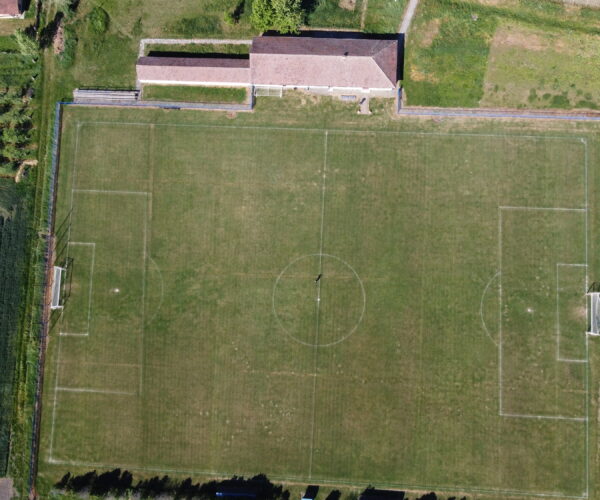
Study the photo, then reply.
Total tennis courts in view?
0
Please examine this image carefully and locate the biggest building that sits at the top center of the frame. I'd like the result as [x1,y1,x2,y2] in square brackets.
[248,36,397,98]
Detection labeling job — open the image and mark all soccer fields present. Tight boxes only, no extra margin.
[39,113,599,500]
